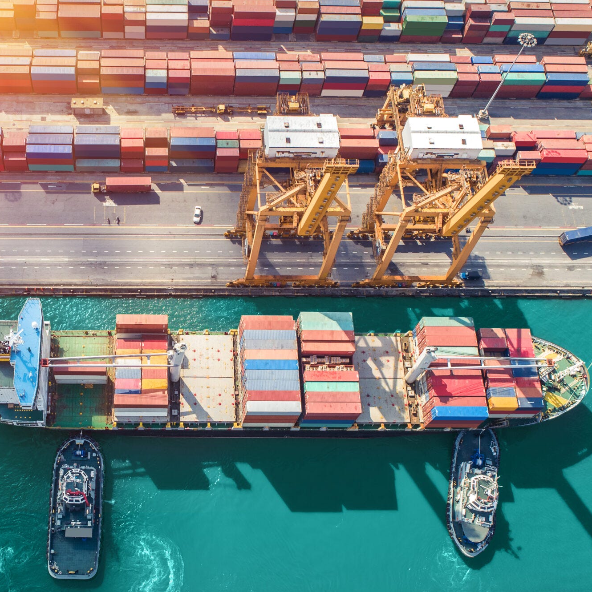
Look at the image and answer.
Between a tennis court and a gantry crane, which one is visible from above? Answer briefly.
gantry crane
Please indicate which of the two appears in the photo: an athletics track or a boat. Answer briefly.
boat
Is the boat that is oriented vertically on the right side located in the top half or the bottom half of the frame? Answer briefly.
bottom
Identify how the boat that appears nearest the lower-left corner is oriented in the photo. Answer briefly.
vertically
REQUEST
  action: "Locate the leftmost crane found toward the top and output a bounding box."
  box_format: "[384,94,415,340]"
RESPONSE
[221,80,364,288]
